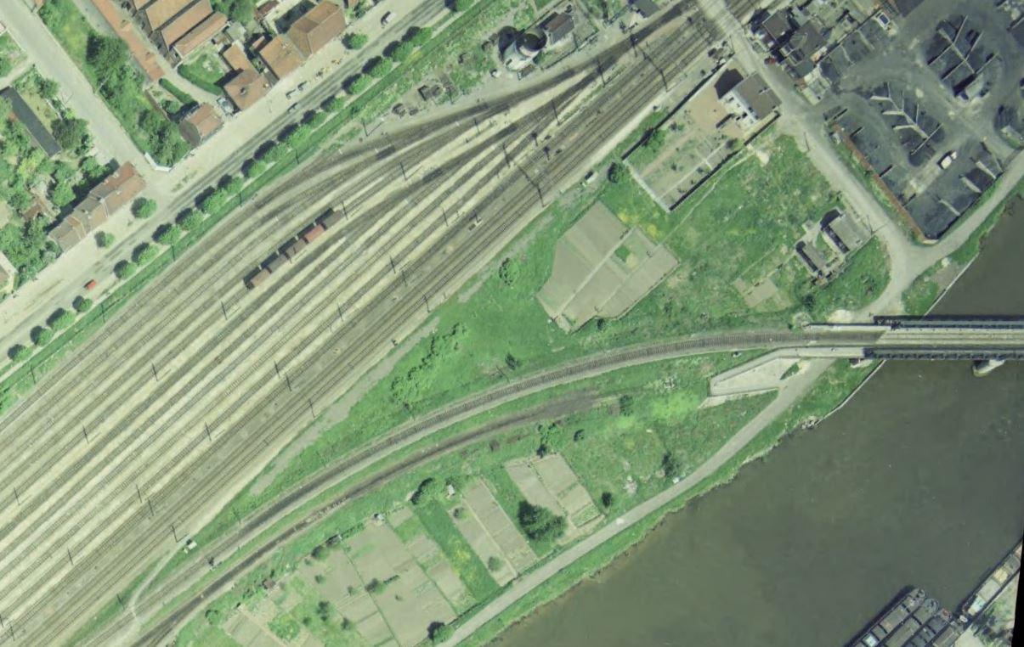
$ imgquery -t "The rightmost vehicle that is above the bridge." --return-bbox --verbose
[942,150,959,166]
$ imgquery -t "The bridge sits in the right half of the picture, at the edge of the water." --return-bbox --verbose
[778,322,1024,376]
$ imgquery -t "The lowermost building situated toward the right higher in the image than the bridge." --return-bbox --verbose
[799,241,829,274]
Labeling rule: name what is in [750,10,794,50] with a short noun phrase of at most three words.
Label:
house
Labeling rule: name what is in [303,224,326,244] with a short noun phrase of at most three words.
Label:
rail car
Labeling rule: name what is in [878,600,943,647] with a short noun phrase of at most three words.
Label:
ship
